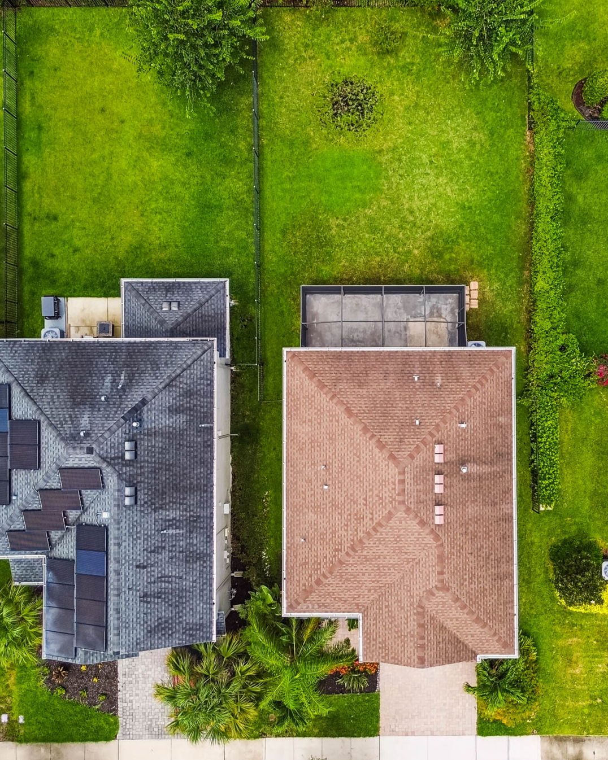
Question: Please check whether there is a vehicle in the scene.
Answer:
No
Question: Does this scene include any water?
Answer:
No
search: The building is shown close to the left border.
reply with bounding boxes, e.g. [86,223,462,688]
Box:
[0,276,243,666]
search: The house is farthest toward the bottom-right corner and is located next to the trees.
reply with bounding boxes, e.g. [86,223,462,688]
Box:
[280,287,520,672]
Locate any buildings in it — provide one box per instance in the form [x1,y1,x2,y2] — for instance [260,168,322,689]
[0,276,243,666]
[280,287,520,672]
